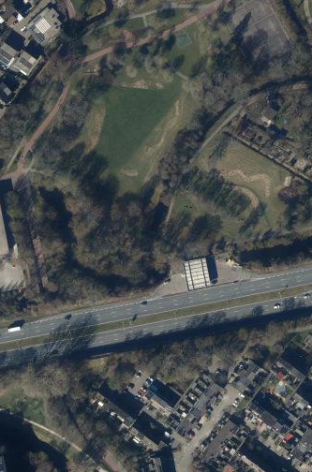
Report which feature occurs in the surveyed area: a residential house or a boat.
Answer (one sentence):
This aerial view contains a residential house.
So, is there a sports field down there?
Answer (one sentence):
Yes, the image includes a sports field.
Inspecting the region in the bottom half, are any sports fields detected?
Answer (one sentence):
No, no sports field appears in the bottom half.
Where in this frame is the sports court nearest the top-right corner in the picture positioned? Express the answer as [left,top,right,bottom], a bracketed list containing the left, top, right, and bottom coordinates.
[237,0,289,50]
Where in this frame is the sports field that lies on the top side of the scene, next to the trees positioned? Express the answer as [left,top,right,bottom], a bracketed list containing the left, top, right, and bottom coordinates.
[94,80,186,173]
